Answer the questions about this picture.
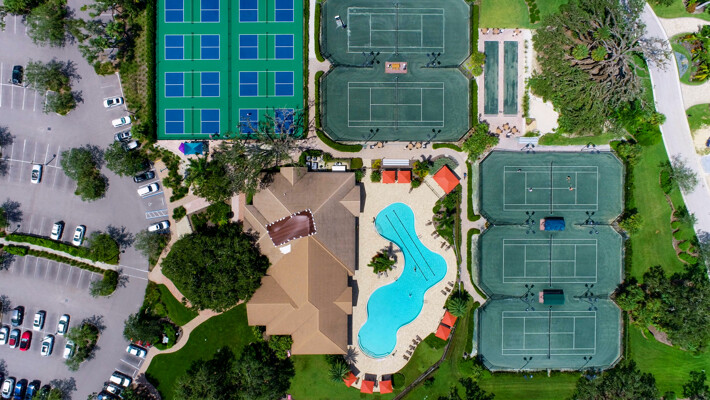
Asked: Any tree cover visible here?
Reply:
Yes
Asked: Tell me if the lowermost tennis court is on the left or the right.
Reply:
right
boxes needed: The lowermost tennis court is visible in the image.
[479,297,621,370]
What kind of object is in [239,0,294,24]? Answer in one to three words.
sports court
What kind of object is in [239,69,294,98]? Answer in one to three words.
sports court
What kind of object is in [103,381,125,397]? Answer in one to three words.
vehicle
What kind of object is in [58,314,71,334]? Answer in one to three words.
vehicle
